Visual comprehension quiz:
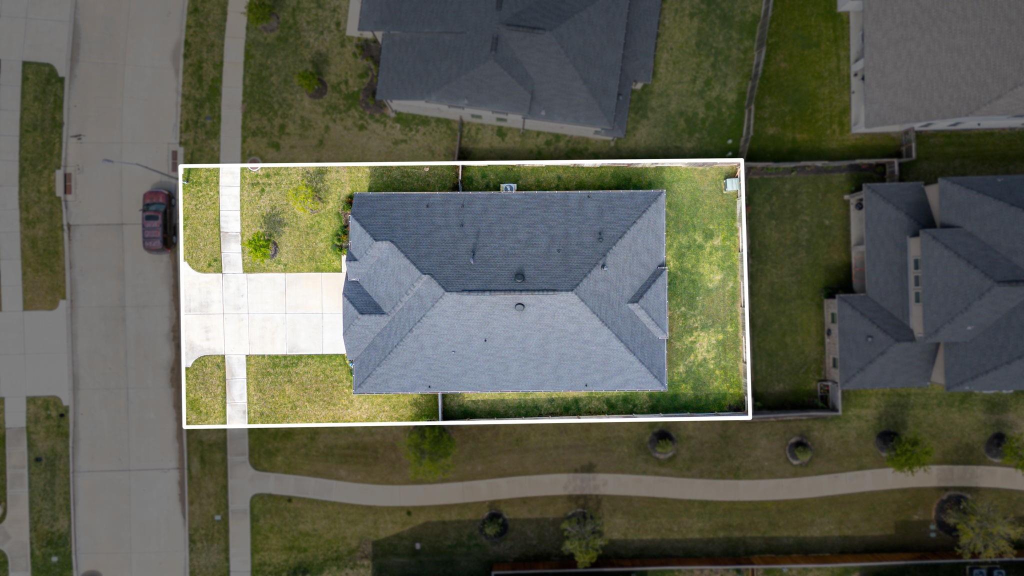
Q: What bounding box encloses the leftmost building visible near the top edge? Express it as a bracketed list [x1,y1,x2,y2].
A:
[358,0,662,153]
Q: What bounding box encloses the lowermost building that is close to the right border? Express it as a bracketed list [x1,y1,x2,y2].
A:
[823,176,1024,393]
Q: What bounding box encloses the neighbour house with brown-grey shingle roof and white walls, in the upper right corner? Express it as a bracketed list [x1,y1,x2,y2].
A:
[834,0,1024,133]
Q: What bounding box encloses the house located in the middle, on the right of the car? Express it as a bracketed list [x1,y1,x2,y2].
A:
[342,190,668,393]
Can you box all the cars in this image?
[141,189,177,254]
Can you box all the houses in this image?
[834,0,1024,133]
[342,190,668,393]
[823,176,1024,393]
[358,0,662,153]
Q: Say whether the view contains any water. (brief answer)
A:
No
